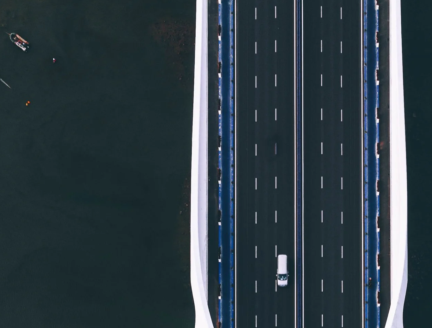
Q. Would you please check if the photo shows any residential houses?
No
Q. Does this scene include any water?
Yes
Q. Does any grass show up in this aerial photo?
No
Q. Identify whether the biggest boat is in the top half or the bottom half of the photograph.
top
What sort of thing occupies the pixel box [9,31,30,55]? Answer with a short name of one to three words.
boat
